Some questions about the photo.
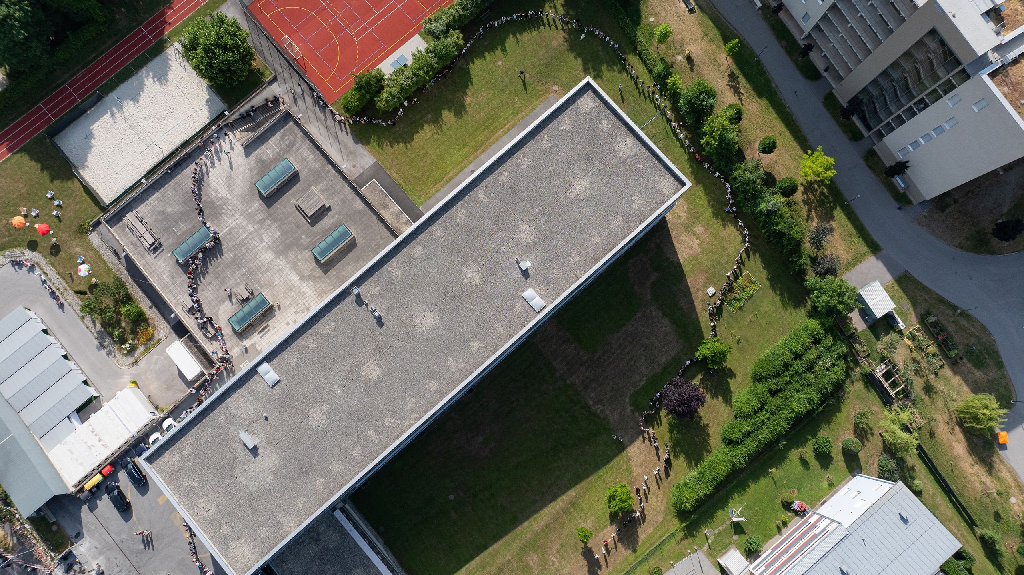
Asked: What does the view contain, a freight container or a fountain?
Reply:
freight container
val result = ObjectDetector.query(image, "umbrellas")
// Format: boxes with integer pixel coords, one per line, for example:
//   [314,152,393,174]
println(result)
[79,264,94,277]
[14,216,29,229]
[39,224,54,236]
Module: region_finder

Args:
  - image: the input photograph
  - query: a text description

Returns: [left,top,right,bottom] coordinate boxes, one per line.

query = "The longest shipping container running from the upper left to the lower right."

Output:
[166,340,204,381]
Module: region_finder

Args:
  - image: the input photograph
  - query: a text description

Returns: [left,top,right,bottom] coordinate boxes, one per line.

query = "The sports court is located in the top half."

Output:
[253,0,439,104]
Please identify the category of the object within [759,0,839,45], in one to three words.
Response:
building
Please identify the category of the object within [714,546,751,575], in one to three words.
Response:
shed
